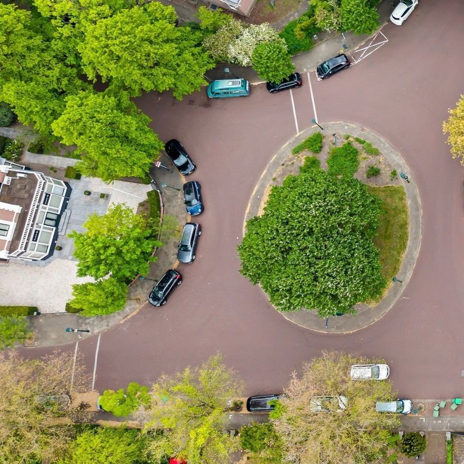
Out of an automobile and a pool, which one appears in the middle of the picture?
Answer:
automobile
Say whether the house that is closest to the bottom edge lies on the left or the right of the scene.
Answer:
left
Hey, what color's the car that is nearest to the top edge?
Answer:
white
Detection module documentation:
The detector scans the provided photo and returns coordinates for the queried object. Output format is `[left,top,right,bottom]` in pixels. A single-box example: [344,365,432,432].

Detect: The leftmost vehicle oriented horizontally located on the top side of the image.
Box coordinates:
[207,77,251,99]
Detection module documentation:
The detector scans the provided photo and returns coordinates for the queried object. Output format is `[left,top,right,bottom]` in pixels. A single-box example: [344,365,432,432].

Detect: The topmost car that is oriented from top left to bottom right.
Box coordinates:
[162,135,198,177]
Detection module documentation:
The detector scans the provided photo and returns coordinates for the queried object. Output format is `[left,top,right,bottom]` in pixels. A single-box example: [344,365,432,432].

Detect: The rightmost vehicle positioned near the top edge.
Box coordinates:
[389,0,419,28]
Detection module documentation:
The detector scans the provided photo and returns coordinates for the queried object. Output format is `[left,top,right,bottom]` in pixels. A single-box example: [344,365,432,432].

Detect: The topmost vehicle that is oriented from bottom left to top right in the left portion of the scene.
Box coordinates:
[146,267,184,309]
